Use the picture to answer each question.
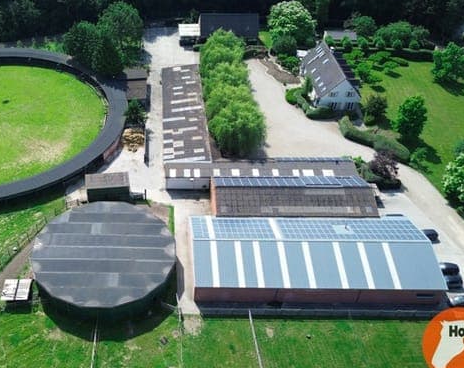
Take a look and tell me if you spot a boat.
No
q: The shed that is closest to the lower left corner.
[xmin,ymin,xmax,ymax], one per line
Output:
[2,278,32,309]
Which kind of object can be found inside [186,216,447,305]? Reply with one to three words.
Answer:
barn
